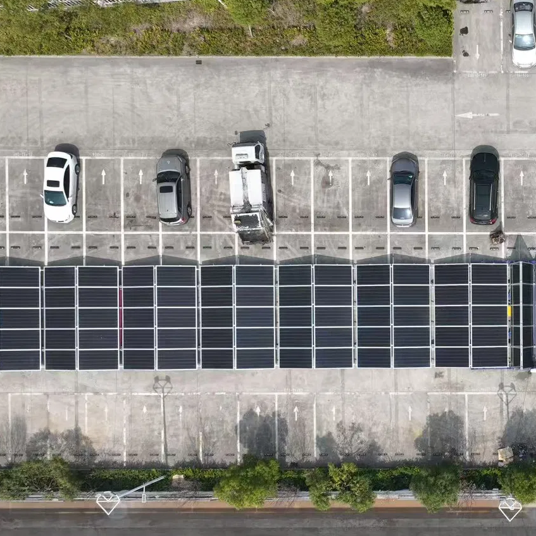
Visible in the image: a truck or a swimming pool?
truck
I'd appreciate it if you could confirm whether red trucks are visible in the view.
No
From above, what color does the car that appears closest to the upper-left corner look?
white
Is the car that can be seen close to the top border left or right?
right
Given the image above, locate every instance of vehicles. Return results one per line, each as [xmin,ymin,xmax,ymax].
[153,153,193,225]
[465,152,502,225]
[40,149,81,223]
[228,135,273,243]
[506,0,536,69]
[385,157,420,229]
